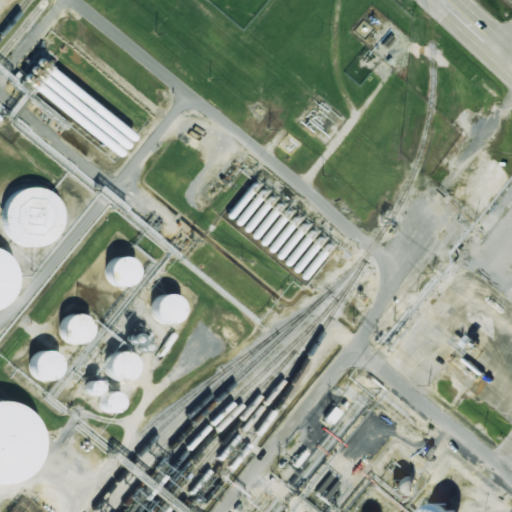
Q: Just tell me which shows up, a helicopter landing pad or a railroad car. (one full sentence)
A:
It is a railroad car that can be seen here.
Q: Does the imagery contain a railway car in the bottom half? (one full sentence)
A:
Yes, in the bottom half there is a railway car.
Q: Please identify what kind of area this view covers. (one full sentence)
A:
The picture captures an industrial area.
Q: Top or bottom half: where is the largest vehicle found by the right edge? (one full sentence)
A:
Seen from above, the largest vehicle found by the right edge lies in the bottom half of the view.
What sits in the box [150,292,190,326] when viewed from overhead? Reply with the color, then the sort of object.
white storage tank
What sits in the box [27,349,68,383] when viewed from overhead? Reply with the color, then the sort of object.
white storage tank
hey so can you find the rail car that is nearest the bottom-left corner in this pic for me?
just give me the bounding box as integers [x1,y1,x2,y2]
[97,484,118,509]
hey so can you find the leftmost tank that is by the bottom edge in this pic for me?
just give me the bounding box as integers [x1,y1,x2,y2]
[0,398,48,486]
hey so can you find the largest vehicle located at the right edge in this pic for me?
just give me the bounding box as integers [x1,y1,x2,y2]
[456,355,490,381]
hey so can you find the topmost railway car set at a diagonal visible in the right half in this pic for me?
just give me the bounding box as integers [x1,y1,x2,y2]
[305,330,327,358]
